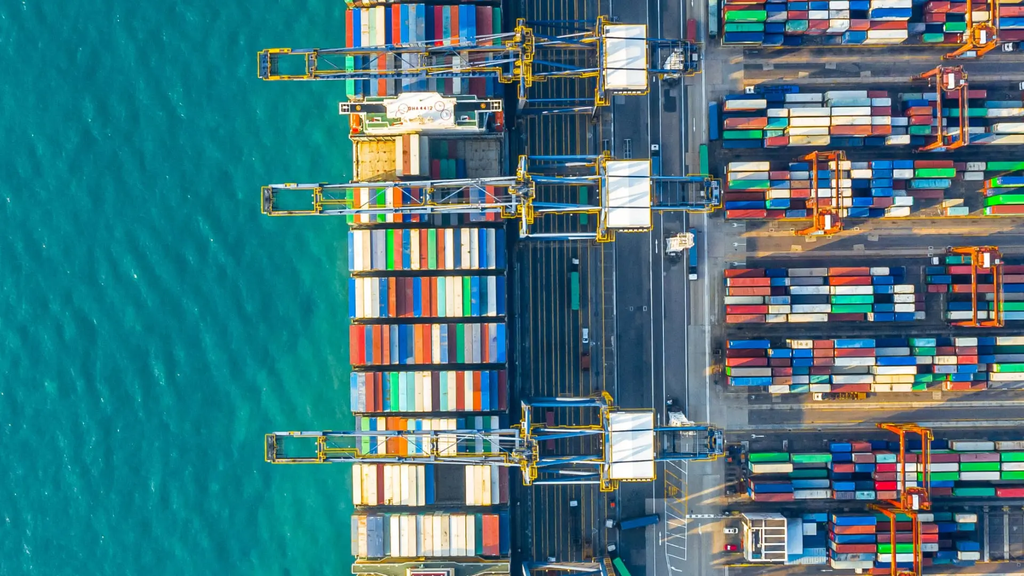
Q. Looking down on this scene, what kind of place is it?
port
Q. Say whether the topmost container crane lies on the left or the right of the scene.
right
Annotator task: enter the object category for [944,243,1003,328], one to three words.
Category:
container crane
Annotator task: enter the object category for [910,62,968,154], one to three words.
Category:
container crane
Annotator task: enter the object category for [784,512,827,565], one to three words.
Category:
shed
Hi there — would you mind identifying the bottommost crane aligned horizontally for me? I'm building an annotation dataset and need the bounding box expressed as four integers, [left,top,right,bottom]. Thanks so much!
[523,544,622,576]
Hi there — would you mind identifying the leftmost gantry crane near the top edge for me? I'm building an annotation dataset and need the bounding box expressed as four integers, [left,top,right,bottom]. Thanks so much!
[255,15,703,132]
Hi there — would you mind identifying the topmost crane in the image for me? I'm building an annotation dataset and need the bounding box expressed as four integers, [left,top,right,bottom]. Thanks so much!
[941,0,999,58]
